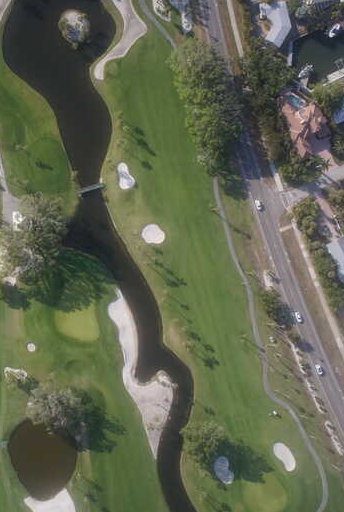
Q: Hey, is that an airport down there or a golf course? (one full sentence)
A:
The picture captures a golf course.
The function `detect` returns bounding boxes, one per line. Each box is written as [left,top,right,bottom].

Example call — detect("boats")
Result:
[330,24,341,36]
[298,68,312,79]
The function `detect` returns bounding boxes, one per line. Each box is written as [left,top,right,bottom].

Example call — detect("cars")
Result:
[294,312,301,323]
[315,364,322,375]
[255,200,261,211]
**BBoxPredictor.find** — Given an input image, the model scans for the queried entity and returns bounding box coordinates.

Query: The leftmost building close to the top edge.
[264,0,292,48]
